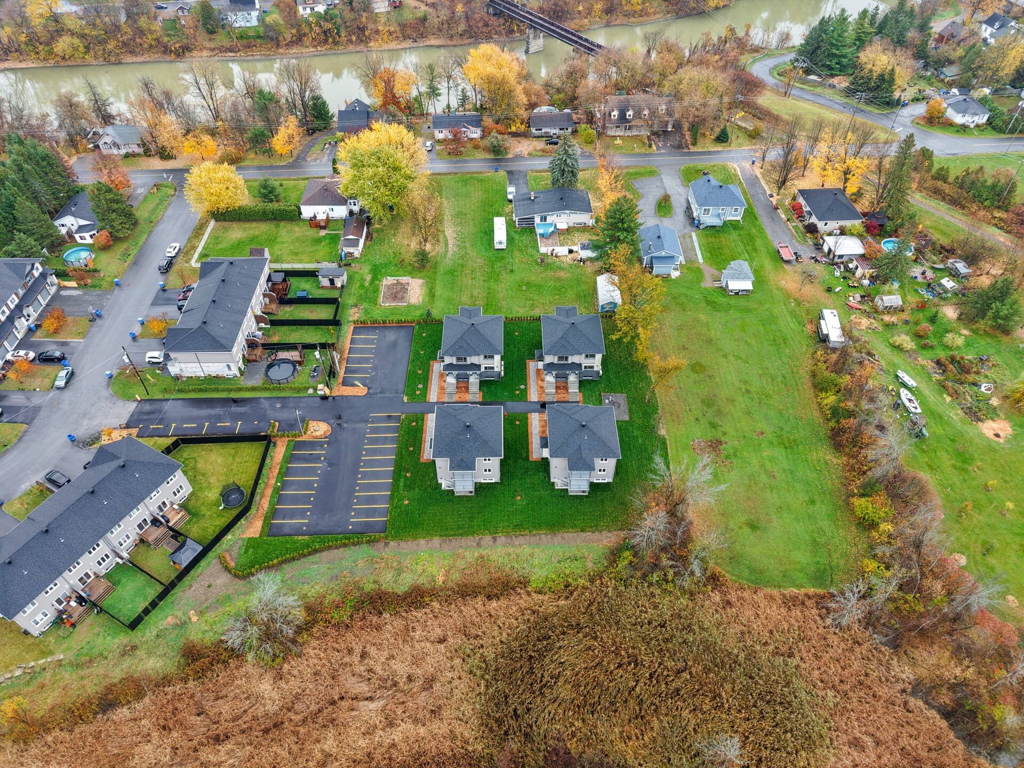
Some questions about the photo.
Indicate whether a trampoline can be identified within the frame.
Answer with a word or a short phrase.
Yes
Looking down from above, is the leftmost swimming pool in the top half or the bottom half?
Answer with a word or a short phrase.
top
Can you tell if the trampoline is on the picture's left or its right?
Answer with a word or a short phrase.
left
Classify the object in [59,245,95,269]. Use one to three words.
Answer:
swimming pool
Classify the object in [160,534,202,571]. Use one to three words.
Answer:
gazebo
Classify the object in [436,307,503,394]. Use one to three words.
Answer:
house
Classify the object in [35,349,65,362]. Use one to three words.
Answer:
vehicle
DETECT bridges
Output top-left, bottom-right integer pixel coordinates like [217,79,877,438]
[489,0,620,80]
